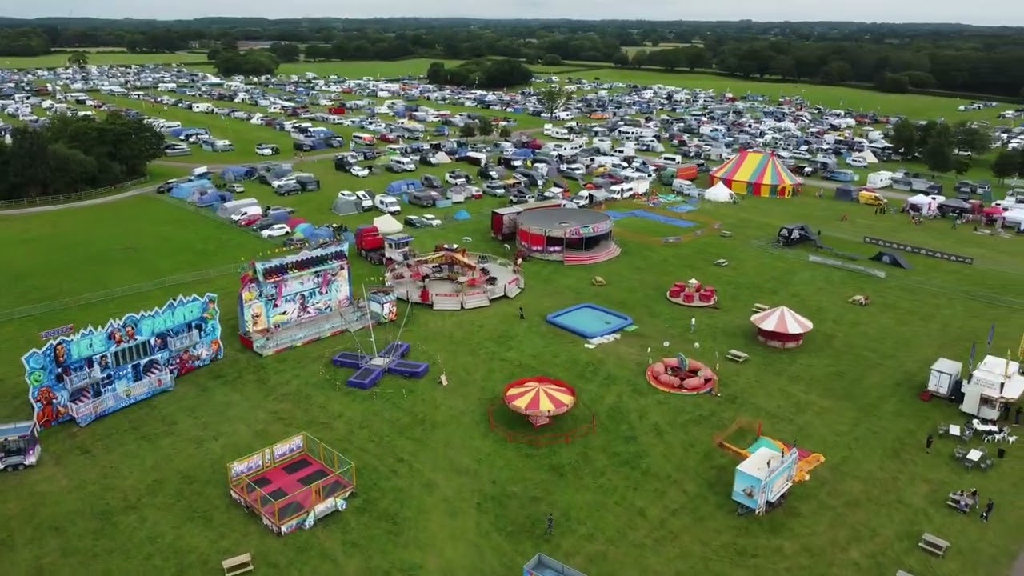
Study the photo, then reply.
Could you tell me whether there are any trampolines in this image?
Yes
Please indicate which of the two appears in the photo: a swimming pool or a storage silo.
swimming pool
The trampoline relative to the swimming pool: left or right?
left of it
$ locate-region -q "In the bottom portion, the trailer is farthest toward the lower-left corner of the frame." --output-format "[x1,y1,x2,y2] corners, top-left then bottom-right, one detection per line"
[0,416,37,471]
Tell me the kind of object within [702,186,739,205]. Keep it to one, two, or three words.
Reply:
tent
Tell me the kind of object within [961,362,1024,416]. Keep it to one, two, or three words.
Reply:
trailer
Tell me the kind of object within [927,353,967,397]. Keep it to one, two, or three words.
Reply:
trailer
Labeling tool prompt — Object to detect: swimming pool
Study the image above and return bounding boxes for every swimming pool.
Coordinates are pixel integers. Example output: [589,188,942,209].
[545,298,636,338]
